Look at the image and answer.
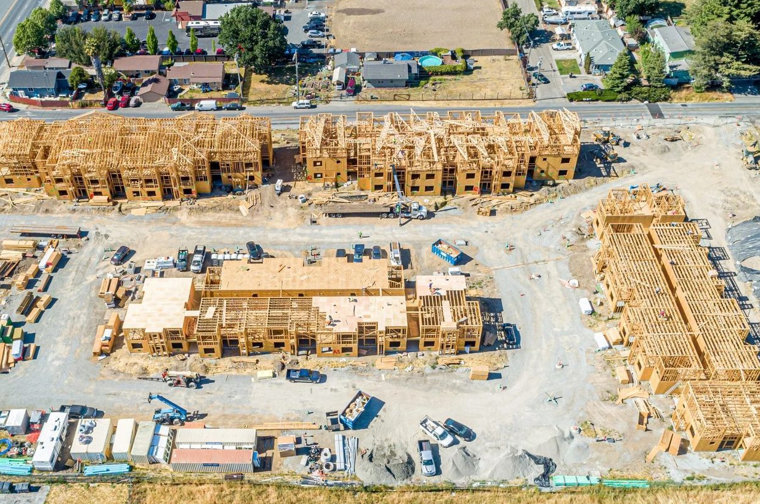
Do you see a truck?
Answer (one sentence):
Yes, a truck appears in the view.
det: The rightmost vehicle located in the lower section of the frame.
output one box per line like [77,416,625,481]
[500,319,521,348]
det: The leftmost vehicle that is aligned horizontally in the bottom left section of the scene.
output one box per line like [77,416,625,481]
[62,402,100,418]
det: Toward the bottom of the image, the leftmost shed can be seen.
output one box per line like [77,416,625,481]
[0,403,32,438]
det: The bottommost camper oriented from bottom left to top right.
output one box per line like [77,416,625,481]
[23,410,76,473]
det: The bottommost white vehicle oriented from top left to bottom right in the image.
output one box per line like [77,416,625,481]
[419,414,456,446]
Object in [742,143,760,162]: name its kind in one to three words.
work vehicle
